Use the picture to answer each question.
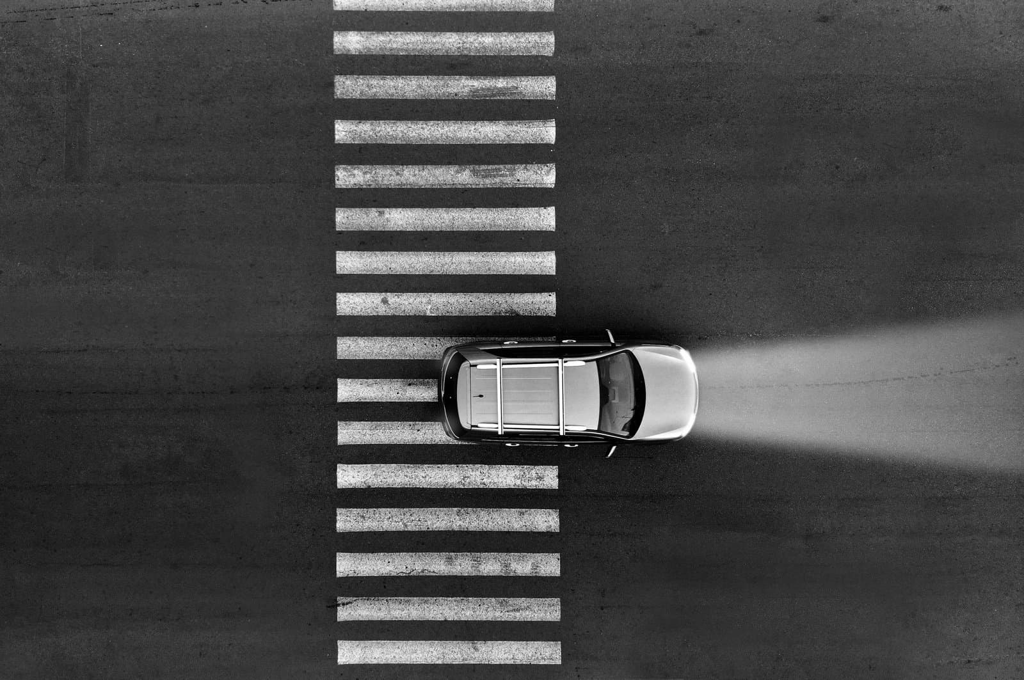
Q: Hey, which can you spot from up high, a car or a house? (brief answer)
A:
car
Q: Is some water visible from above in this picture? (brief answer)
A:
No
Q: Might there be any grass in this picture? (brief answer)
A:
No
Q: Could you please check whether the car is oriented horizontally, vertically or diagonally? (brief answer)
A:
horizontally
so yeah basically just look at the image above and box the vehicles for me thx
[438,330,699,459]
